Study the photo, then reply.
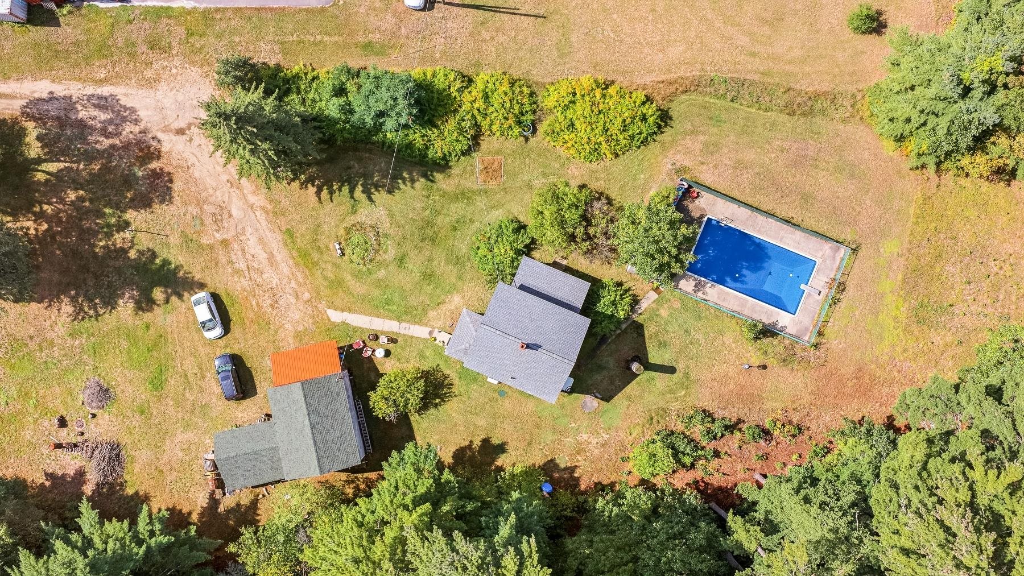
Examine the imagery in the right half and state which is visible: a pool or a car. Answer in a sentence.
It is a pool that can be seen in the right half.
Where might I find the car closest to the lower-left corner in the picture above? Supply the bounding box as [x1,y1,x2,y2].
[217,351,248,400]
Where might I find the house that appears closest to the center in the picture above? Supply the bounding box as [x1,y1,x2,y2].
[444,255,591,401]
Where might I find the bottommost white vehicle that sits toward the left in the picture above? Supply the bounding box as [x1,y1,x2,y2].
[192,292,225,341]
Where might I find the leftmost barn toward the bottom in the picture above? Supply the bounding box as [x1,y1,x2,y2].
[215,341,367,490]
